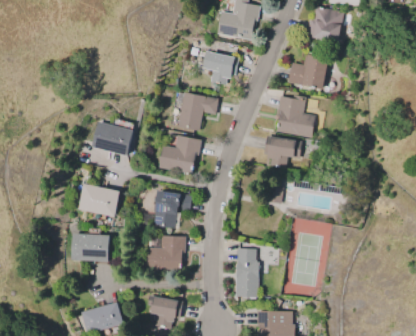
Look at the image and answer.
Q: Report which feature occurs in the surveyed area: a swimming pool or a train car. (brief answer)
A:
swimming pool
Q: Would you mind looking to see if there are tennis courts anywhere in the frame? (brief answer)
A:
Yes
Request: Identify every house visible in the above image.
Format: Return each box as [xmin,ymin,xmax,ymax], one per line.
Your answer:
[310,8,345,39]
[258,310,296,336]
[288,54,328,90]
[266,136,304,167]
[82,303,121,330]
[92,120,134,155]
[236,248,260,298]
[177,92,220,132]
[202,50,235,84]
[277,96,316,138]
[71,233,110,263]
[78,184,120,218]
[149,296,178,330]
[156,192,181,228]
[148,235,187,270]
[159,135,202,174]
[218,0,262,40]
